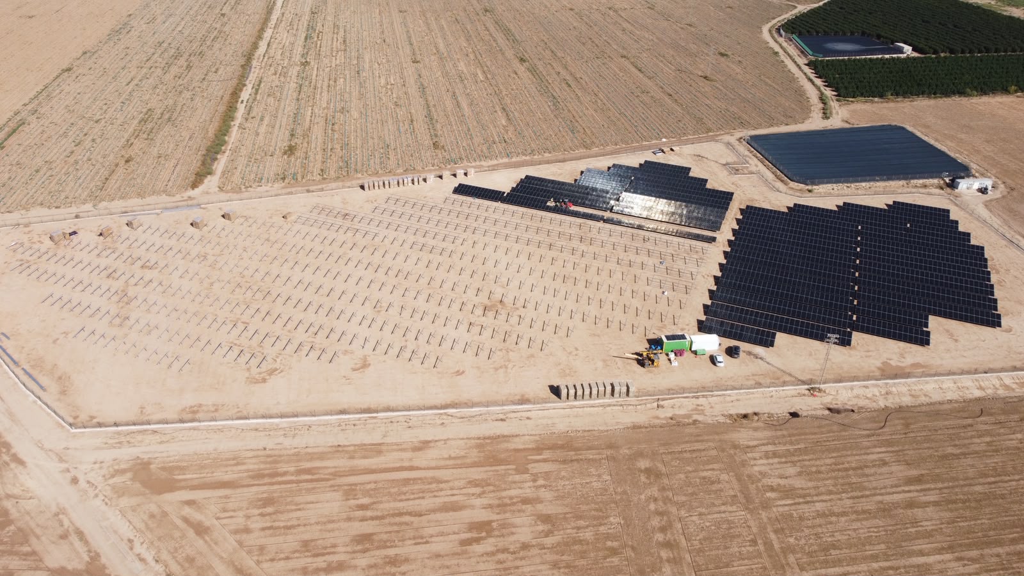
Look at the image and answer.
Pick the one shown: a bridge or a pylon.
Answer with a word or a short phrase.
pylon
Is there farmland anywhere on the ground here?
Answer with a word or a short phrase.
Yes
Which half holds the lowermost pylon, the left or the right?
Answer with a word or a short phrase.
right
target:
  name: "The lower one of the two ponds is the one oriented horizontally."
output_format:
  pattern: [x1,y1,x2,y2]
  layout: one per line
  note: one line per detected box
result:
[737,124,978,192]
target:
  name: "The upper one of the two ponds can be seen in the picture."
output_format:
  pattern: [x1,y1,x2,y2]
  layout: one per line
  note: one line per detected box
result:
[789,35,907,61]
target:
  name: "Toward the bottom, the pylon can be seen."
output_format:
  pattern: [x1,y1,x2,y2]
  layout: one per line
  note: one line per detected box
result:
[815,335,842,389]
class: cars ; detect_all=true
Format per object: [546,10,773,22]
[711,352,724,367]
[730,342,742,359]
